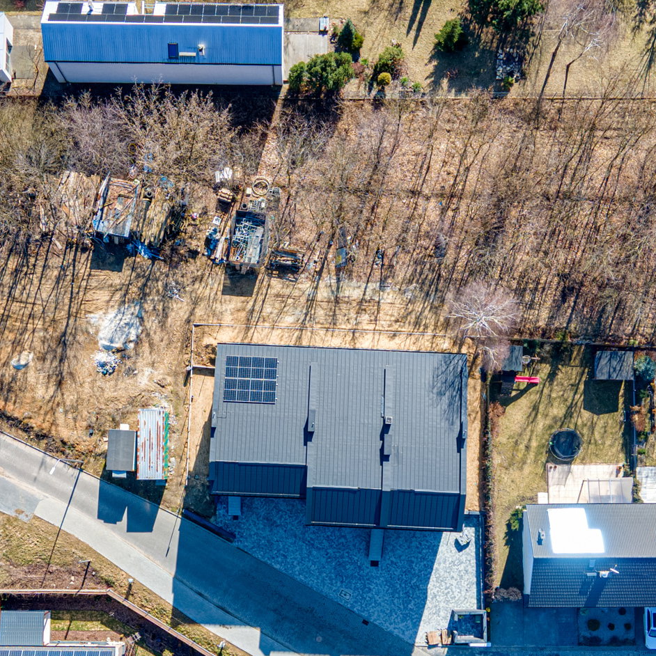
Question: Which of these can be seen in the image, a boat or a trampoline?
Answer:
trampoline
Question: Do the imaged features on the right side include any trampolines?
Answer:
Yes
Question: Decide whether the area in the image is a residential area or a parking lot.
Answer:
residential area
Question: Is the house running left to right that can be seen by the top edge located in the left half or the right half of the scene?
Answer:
left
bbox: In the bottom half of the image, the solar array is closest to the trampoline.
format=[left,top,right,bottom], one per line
[545,509,610,553]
